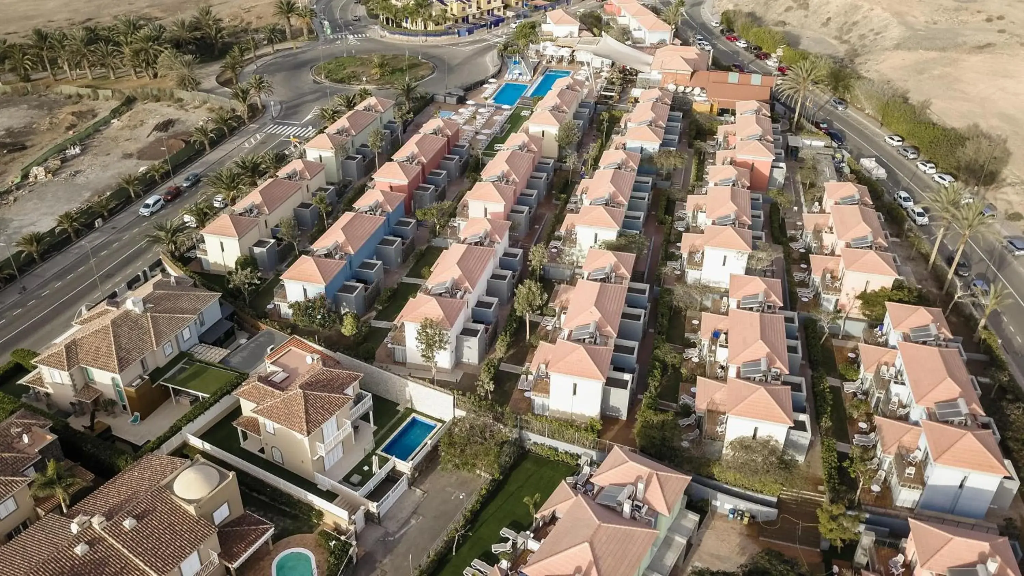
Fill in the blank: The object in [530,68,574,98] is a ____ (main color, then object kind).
blue swimming pool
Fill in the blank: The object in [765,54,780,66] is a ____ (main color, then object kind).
white vehicle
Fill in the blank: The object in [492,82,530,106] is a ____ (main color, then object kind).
blue swimming pool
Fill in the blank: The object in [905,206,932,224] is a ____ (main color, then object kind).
white car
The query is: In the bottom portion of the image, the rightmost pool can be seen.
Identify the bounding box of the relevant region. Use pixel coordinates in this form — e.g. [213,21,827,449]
[377,416,443,463]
